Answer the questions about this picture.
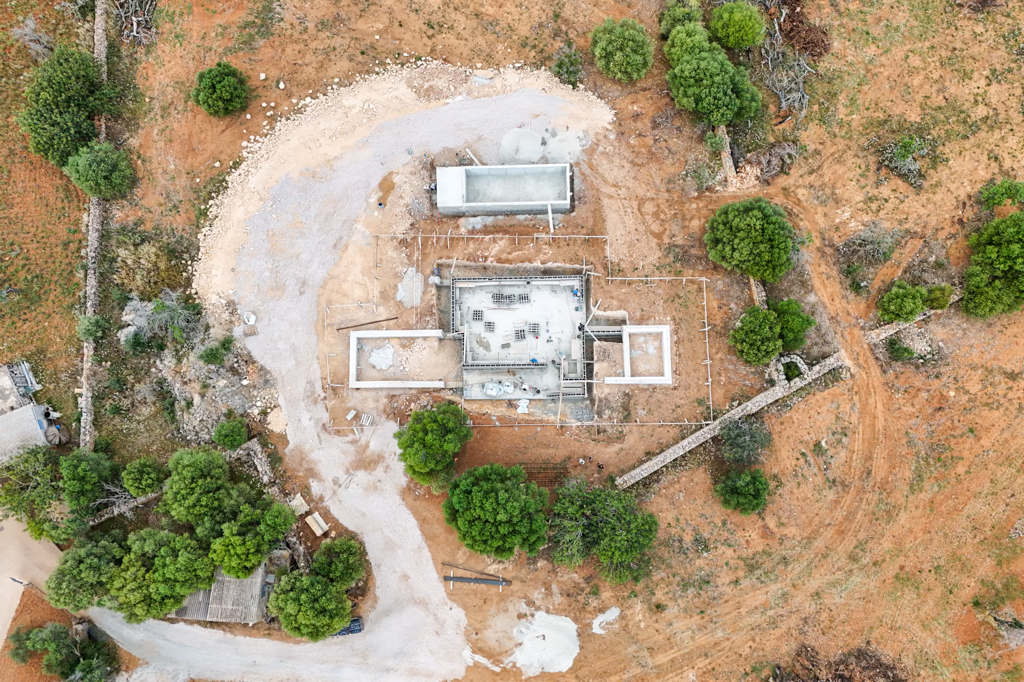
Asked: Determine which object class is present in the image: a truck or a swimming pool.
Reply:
swimming pool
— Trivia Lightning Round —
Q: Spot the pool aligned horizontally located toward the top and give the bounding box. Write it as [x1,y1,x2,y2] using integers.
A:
[436,163,575,213]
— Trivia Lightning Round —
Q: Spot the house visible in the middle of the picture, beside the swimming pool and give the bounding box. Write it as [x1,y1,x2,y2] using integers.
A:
[451,275,624,401]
